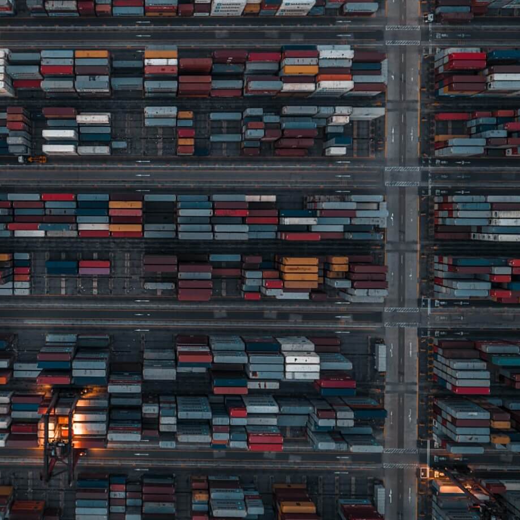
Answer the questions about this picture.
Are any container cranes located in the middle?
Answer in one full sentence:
No, there is no container crane in the middle.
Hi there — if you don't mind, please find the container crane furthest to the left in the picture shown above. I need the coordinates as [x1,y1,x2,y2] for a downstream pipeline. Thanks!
[44,387,89,483]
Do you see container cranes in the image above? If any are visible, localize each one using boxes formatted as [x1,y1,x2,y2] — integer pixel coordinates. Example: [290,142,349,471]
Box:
[44,387,89,483]
[431,473,506,520]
